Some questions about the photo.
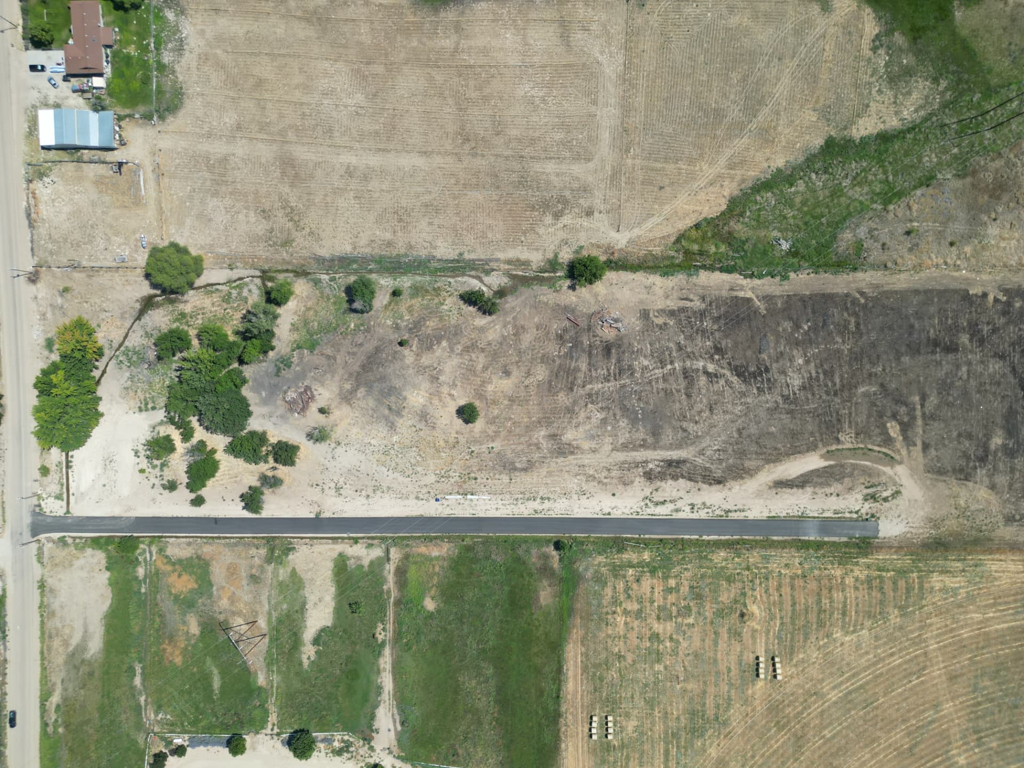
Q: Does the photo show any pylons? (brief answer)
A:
Yes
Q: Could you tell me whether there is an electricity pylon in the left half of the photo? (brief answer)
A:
Yes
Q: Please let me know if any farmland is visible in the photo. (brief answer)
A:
Yes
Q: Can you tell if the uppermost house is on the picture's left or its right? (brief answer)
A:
left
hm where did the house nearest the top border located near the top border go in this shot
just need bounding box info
[64,1,117,77]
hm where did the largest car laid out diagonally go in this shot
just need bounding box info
[47,75,61,90]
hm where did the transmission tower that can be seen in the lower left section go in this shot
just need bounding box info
[232,620,267,663]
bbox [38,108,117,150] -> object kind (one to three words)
barn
